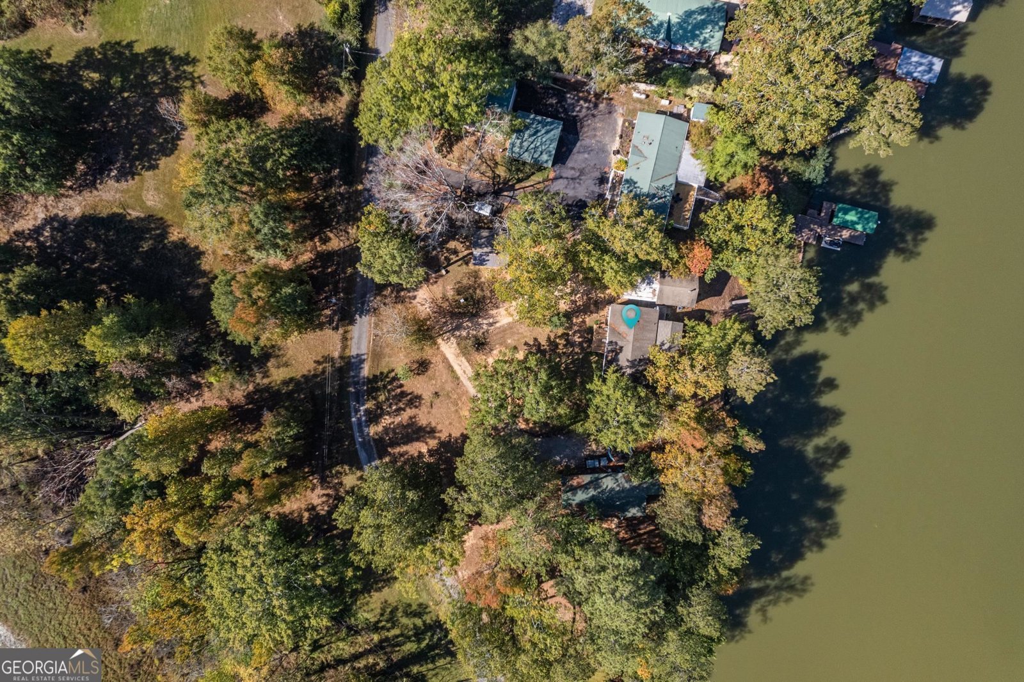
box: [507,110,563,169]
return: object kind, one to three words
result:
building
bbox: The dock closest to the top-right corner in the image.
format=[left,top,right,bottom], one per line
[906,0,970,33]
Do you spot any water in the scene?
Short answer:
Yes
